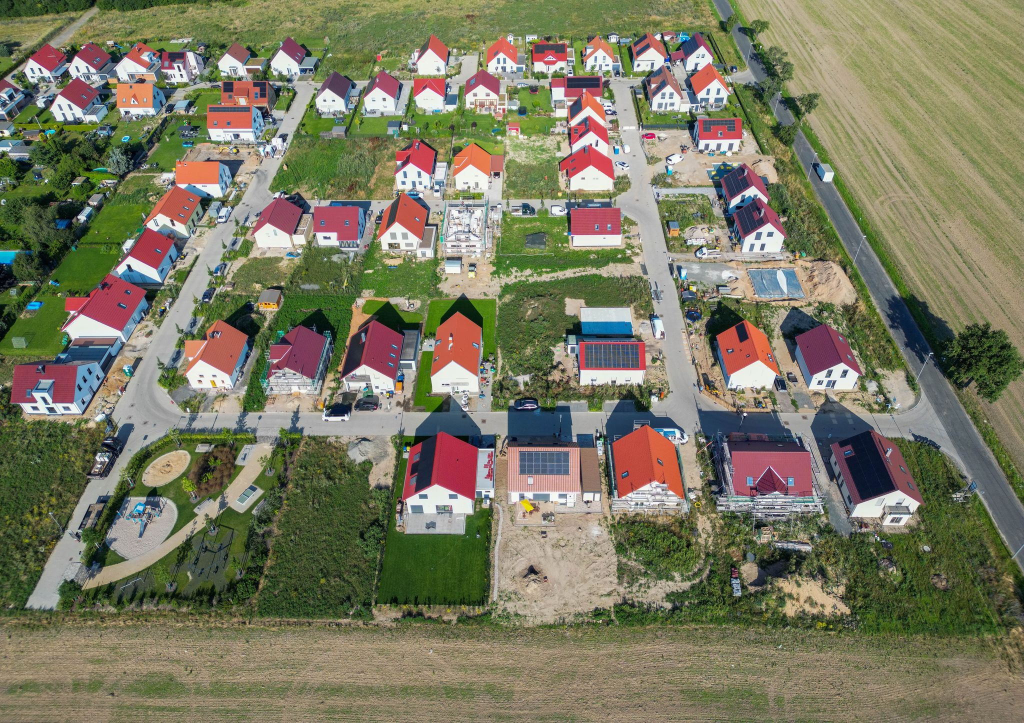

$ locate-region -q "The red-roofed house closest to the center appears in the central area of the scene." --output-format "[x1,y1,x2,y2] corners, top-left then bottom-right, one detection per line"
[428,312,483,392]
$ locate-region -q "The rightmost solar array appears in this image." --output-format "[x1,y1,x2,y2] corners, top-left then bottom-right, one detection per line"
[839,432,891,499]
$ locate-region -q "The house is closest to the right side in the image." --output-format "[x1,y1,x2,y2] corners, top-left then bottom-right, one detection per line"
[830,431,922,525]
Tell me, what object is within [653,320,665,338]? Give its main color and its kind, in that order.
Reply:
white vehicle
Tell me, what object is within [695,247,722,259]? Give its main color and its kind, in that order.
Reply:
white vehicle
